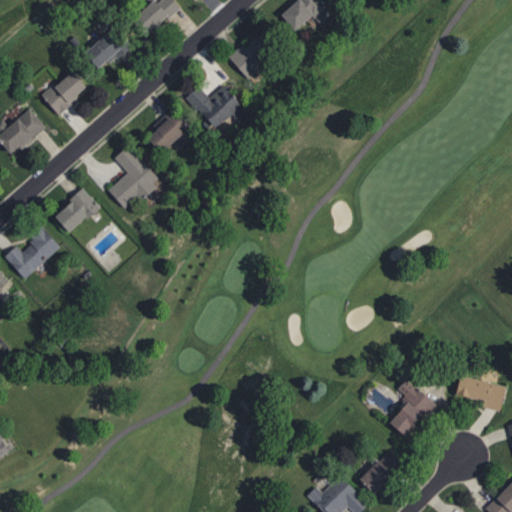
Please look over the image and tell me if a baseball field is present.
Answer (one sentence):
No, there appears to be no baseball field in this shot.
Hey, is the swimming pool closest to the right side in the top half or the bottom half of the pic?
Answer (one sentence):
It is in the bottom half that the swimming pool closest to the right side appears.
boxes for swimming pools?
[364,382,399,415]
[86,222,126,272]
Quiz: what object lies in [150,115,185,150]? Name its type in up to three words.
house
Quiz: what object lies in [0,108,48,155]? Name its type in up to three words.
house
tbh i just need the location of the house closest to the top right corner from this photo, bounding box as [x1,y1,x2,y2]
[281,0,324,31]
